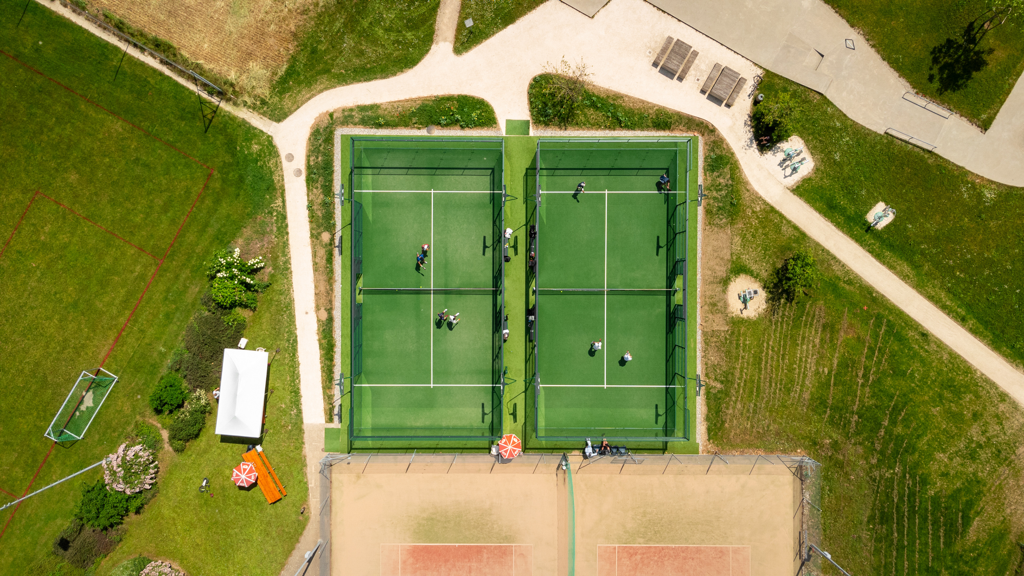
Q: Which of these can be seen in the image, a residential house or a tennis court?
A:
tennis court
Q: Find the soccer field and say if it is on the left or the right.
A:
left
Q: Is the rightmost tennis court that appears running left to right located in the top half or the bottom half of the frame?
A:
bottom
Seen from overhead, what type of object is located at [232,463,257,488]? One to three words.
umbrella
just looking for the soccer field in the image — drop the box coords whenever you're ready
[0,0,239,576]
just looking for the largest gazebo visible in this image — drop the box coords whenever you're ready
[216,348,280,437]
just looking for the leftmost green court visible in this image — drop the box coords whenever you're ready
[349,135,504,441]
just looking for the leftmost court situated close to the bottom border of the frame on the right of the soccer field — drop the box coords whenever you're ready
[330,455,558,576]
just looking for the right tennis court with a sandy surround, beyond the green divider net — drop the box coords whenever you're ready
[558,454,802,576]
